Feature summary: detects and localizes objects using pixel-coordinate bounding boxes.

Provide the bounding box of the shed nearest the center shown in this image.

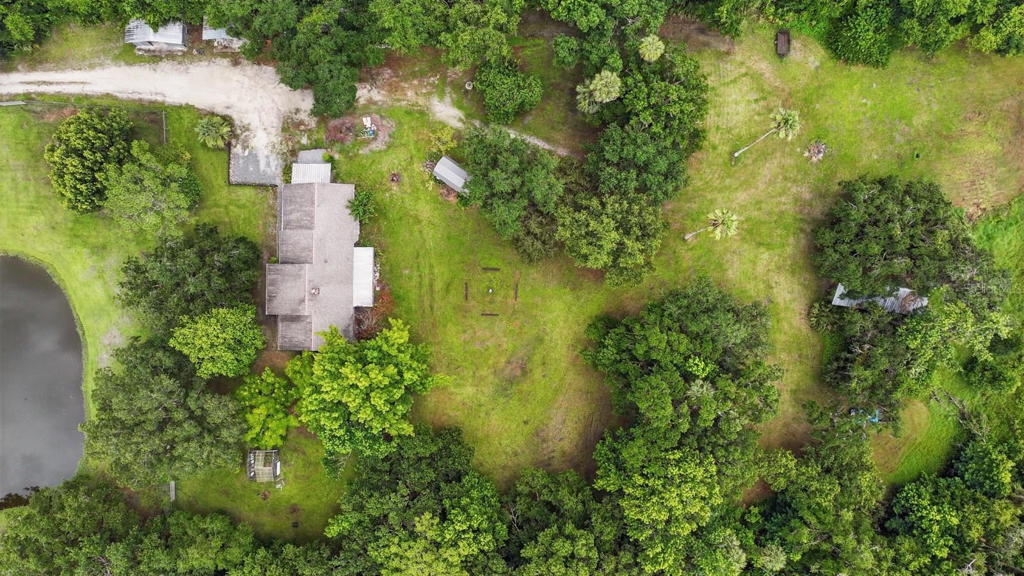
[430,157,469,194]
